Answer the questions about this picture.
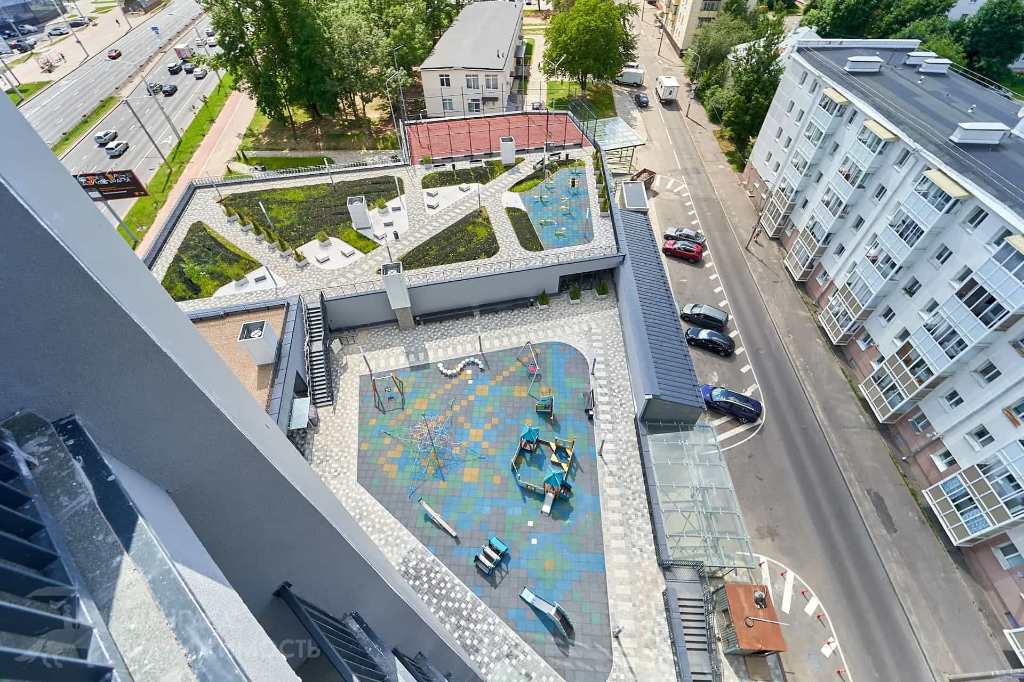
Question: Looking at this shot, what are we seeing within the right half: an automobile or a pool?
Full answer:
What appears within the right half is an automobile.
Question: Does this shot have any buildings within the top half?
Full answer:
Yes, there is a building within the top half.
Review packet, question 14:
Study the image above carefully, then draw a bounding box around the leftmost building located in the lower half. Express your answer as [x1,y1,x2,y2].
[0,170,480,682]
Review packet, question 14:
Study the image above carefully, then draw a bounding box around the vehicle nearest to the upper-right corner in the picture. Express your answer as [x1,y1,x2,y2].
[660,75,678,100]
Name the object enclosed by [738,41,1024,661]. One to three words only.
building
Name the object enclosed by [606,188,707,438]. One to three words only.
shed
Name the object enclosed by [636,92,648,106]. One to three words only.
vehicle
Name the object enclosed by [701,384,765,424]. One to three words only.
car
